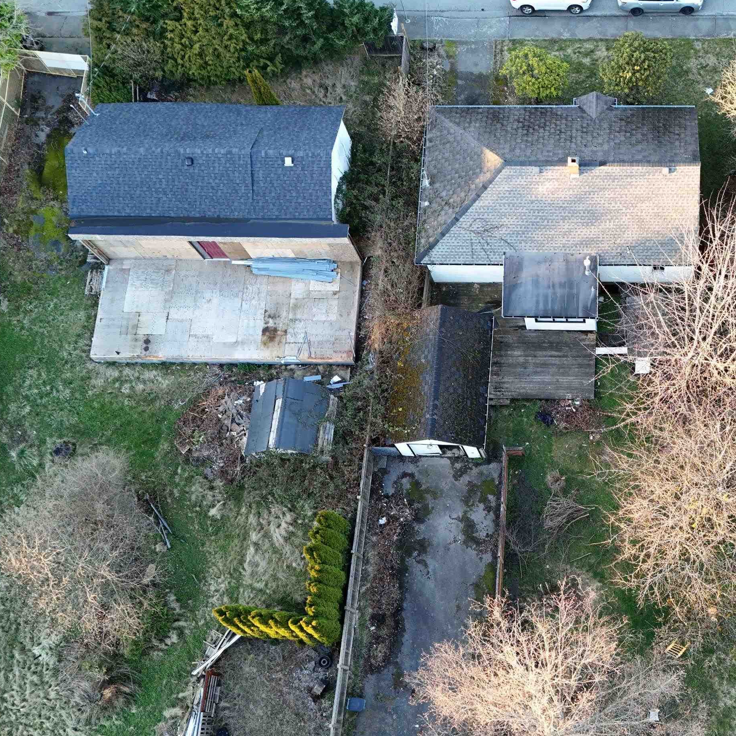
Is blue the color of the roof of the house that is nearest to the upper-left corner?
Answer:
Yes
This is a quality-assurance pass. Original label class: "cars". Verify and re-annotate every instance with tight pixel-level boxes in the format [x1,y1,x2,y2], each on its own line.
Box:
[509,0,592,16]
[615,0,704,16]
